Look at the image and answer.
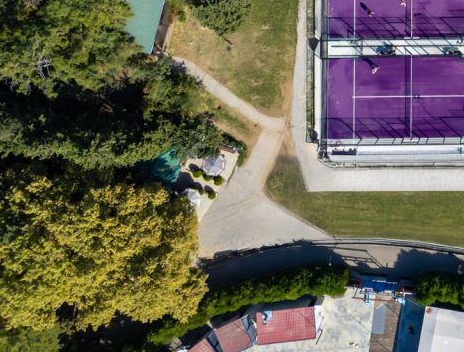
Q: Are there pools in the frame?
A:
No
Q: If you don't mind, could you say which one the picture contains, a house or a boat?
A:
house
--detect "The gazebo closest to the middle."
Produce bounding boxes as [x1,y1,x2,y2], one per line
[204,154,225,175]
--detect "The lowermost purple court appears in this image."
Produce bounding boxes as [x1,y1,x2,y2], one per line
[321,54,464,144]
